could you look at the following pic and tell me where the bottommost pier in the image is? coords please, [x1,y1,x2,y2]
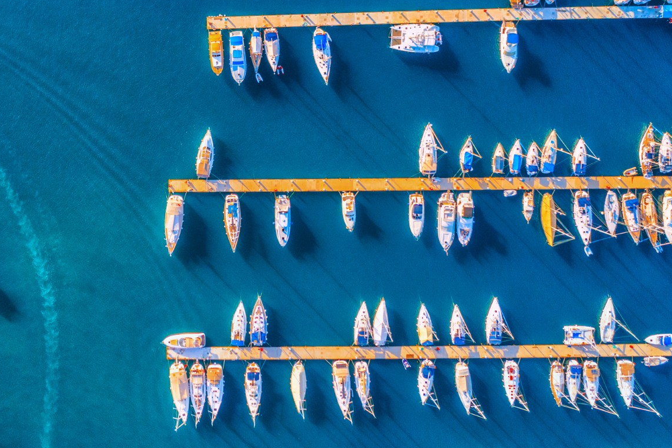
[167,343,672,359]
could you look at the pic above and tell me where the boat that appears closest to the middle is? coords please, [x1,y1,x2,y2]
[340,192,357,237]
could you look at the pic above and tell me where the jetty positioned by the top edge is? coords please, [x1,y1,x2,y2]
[207,5,664,30]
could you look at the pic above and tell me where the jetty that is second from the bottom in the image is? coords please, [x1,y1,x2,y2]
[169,176,672,193]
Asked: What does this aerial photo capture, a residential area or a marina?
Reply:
marina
